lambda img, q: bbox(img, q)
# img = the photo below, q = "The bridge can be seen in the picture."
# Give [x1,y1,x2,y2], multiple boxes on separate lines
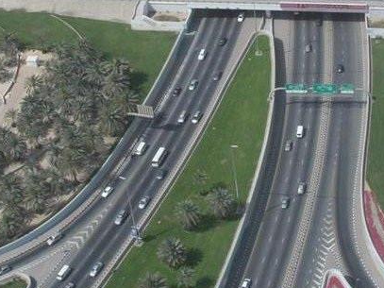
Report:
[189,0,370,15]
